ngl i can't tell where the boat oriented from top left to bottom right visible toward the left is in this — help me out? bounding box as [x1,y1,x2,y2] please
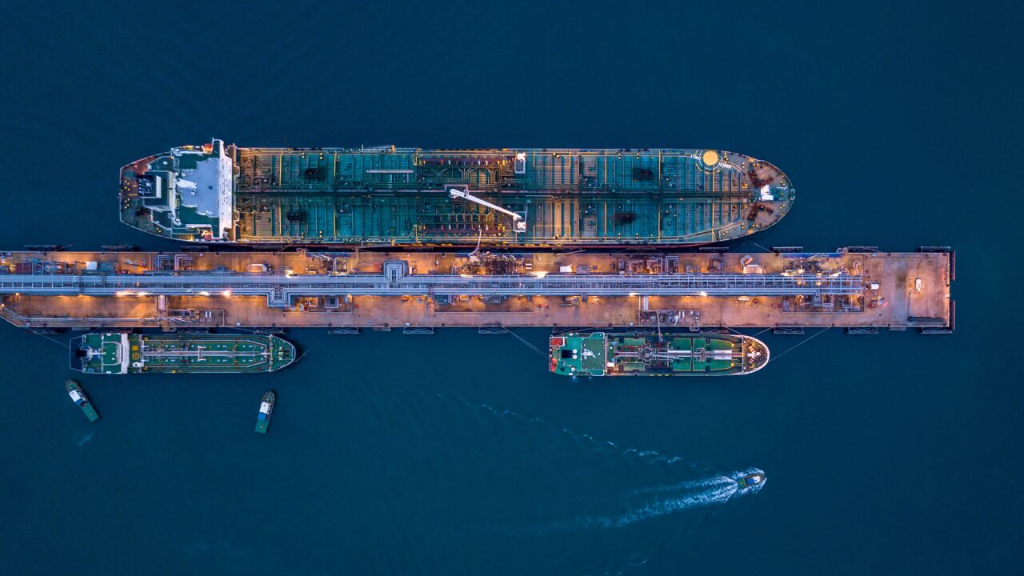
[64,379,101,424]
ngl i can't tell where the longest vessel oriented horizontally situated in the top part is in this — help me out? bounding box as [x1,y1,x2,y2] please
[120,140,795,244]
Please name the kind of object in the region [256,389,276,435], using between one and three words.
boat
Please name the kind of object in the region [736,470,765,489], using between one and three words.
boat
